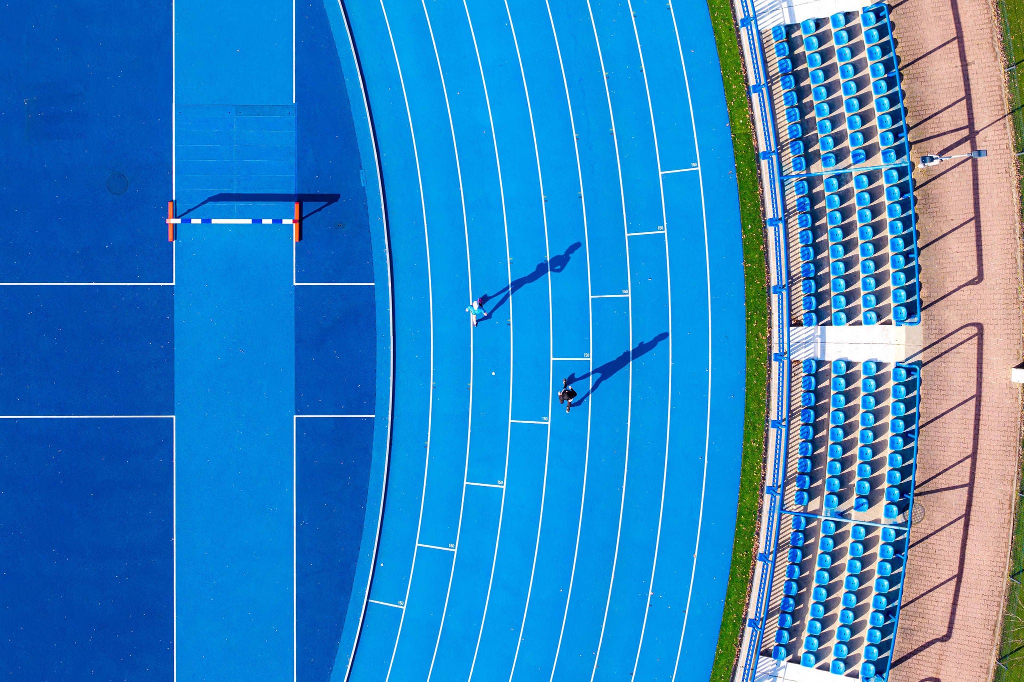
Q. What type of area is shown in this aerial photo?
sports ground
